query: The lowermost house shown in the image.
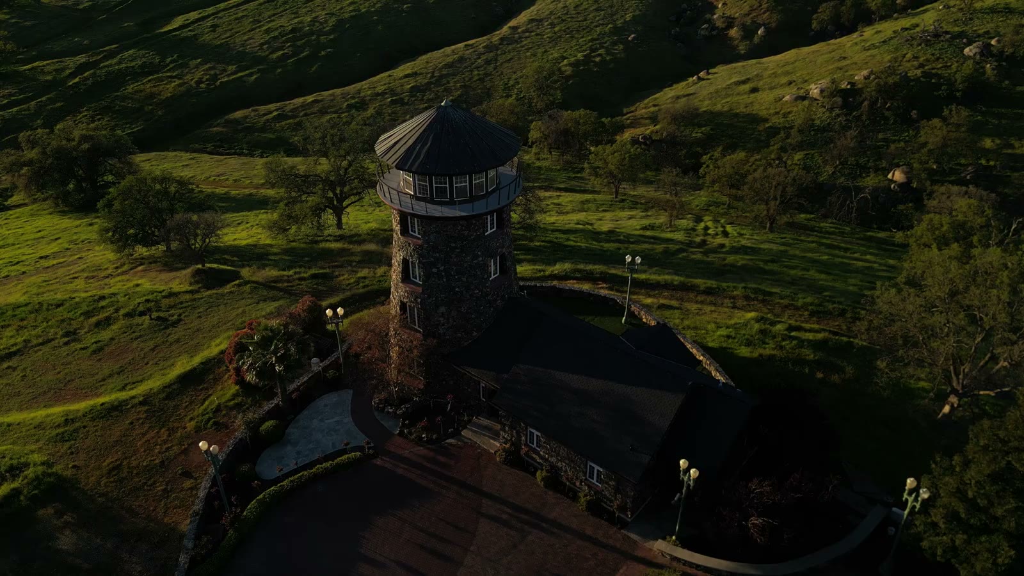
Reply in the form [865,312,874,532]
[457,285,777,520]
